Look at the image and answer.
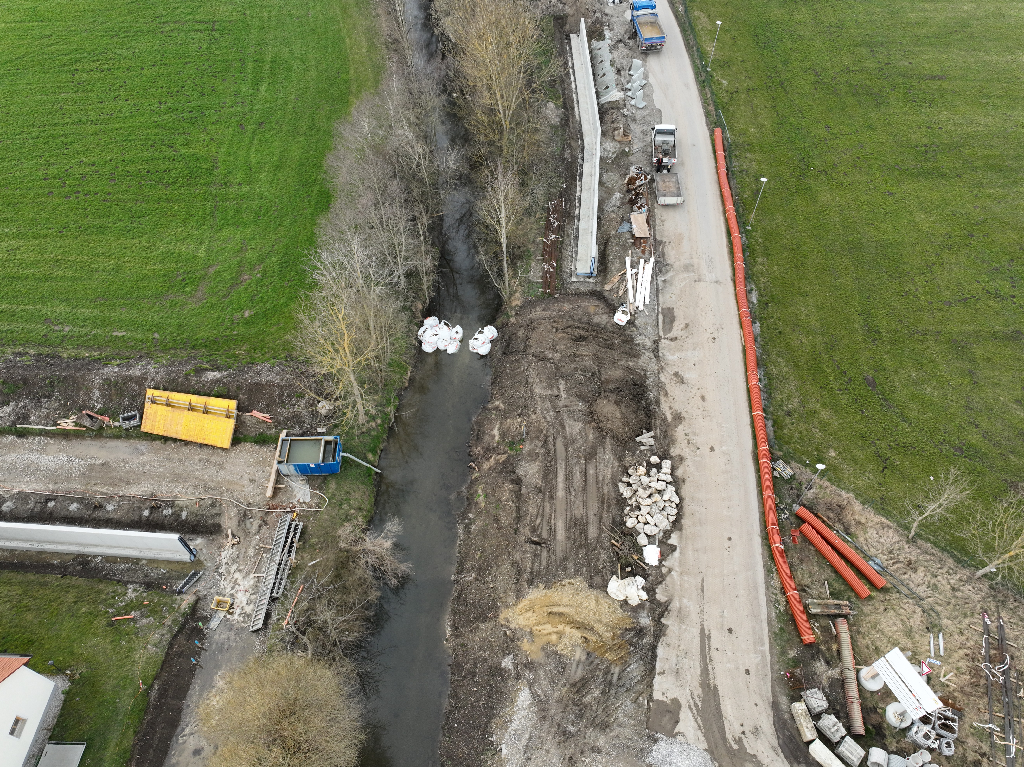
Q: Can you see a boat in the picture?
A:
No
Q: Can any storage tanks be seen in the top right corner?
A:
No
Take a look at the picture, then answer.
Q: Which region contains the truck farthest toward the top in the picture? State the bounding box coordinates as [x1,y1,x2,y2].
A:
[623,0,667,54]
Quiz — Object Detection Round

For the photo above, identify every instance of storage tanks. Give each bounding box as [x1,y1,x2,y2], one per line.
[274,435,345,478]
